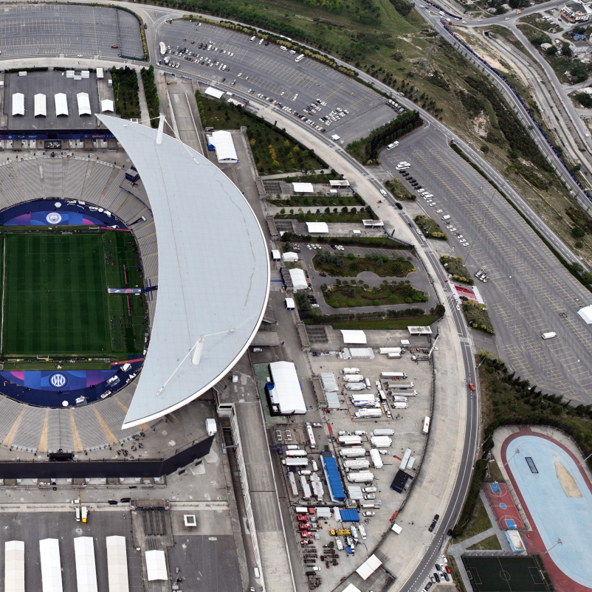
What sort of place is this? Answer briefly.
sports ground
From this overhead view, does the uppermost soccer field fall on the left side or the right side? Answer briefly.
left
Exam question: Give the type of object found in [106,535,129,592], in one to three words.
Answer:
tent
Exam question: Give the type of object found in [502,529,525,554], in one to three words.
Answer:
building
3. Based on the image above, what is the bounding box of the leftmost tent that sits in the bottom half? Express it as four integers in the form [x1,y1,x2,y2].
[4,540,25,592]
